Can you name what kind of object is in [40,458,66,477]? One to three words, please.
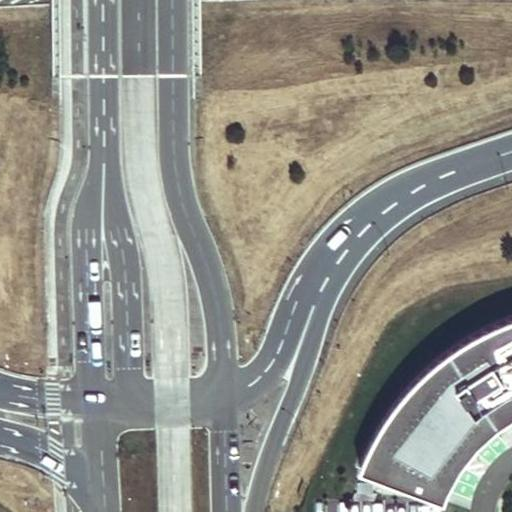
vehicle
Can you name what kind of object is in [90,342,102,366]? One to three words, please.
vehicle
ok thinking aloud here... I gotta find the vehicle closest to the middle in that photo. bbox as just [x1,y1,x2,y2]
[326,226,352,253]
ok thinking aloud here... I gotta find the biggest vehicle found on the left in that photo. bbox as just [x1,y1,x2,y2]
[87,300,102,336]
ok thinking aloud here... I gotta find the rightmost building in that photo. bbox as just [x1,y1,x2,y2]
[358,320,512,512]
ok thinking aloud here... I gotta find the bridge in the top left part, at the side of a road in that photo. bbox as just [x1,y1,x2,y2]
[52,0,204,78]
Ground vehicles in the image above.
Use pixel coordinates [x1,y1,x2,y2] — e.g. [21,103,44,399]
[88,260,99,282]
[228,438,240,462]
[314,504,325,512]
[76,332,88,353]
[229,474,240,498]
[326,226,352,253]
[350,505,360,512]
[87,300,102,336]
[40,458,66,477]
[338,503,348,512]
[130,333,141,358]
[362,504,372,512]
[374,504,384,512]
[84,392,106,404]
[90,342,102,366]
